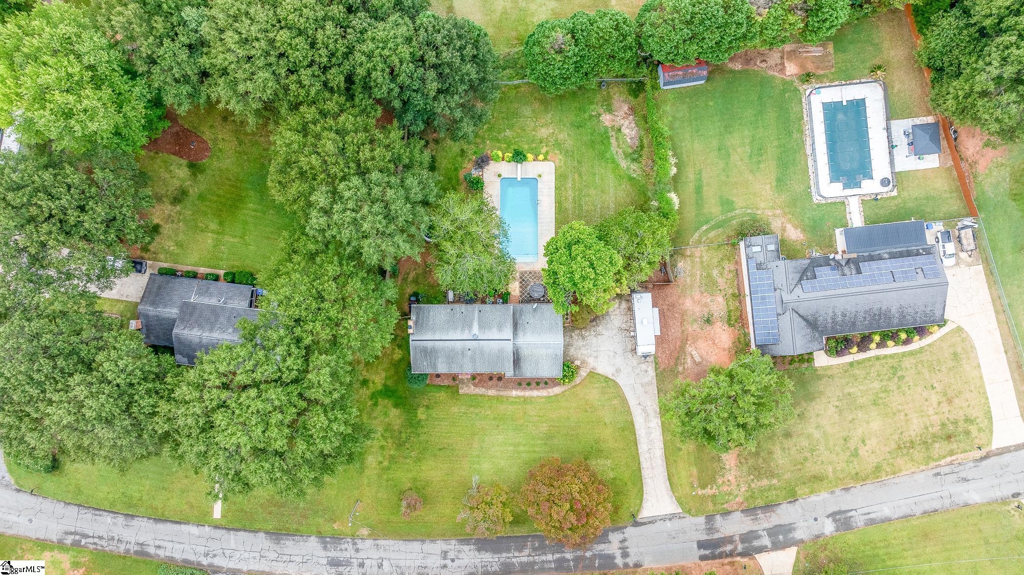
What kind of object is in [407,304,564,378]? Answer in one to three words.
house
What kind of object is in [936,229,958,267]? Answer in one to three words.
truck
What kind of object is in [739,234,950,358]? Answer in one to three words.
house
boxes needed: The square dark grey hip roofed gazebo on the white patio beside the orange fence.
[906,122,942,158]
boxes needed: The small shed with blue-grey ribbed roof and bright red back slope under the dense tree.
[659,57,708,91]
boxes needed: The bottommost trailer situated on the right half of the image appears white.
[628,293,659,362]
